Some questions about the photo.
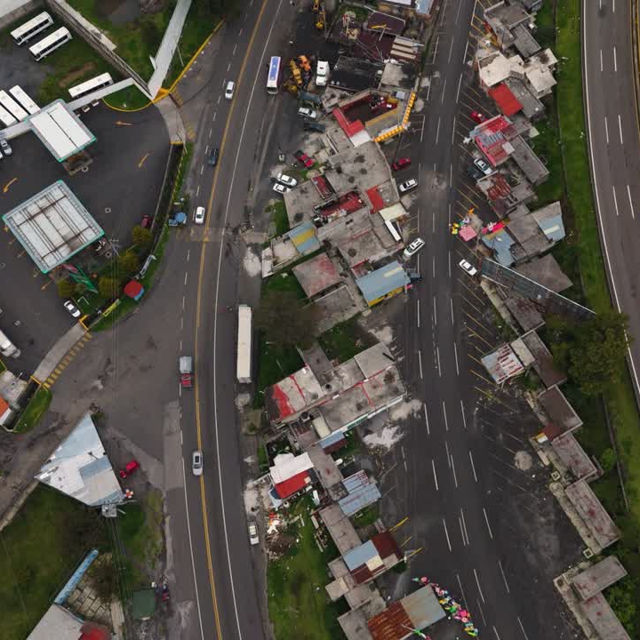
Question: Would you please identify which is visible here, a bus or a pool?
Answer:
bus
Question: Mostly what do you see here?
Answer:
paved ground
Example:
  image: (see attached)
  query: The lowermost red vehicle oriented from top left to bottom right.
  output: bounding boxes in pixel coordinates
[292,149,317,169]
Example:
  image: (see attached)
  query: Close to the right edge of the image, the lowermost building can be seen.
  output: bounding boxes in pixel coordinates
[579,590,633,640]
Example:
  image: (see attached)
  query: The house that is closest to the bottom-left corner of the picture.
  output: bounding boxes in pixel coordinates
[31,602,89,640]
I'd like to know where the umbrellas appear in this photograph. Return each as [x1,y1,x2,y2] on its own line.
[126,489,136,498]
[176,211,188,223]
